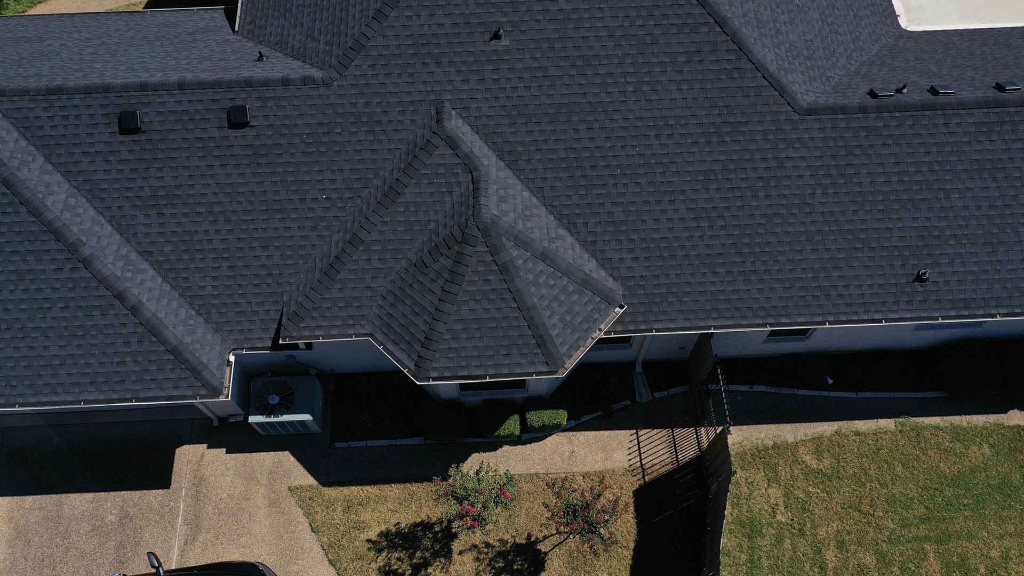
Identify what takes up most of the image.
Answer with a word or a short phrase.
buildings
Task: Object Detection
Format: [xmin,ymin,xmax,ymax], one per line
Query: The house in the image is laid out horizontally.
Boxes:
[0,0,1024,430]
